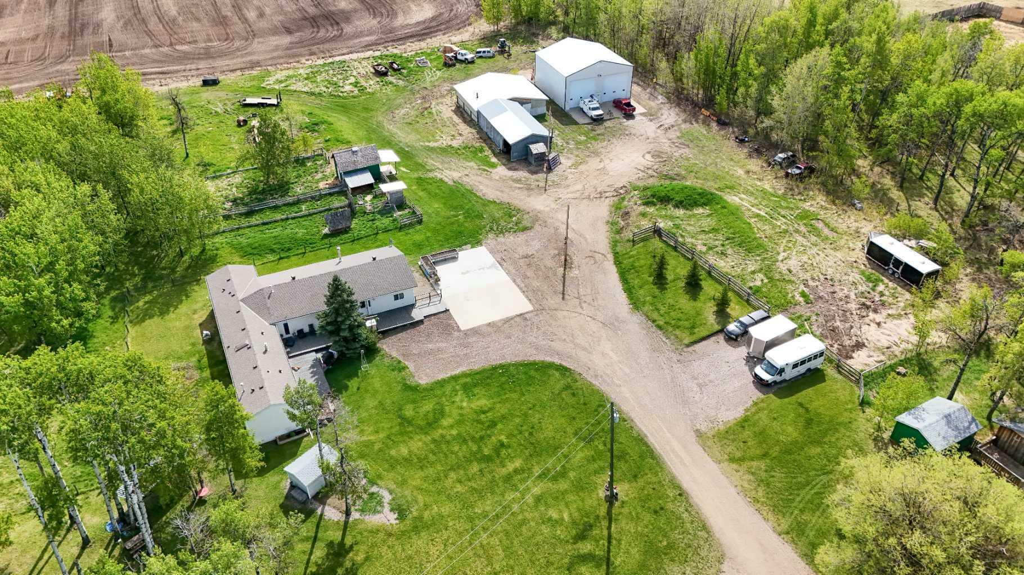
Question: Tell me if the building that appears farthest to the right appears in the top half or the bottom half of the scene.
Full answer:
The building that appears farthest to the right sits in the bottom half of the picture.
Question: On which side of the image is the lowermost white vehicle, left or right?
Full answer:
It is on the right.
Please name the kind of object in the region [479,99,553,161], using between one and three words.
shed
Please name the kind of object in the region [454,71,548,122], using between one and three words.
barn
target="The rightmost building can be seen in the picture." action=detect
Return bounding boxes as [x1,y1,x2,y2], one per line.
[973,406,1024,481]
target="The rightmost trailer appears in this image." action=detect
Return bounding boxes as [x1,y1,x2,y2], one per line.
[861,234,941,288]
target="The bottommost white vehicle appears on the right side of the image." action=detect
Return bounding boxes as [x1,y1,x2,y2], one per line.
[750,335,825,386]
